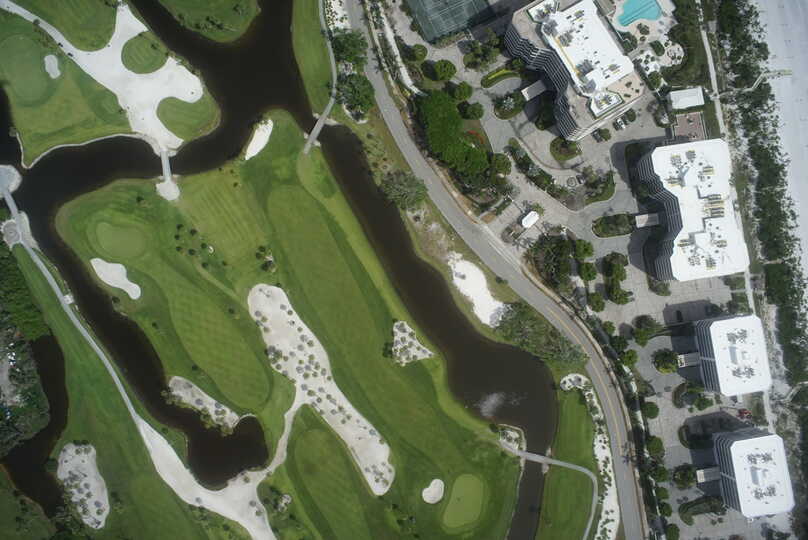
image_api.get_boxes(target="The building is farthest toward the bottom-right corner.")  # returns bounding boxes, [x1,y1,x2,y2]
[695,427,795,519]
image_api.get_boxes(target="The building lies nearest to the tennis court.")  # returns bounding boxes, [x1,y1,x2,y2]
[506,0,645,139]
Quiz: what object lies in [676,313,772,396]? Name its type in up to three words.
building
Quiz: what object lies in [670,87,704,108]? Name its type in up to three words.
building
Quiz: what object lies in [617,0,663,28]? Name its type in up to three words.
swimming pool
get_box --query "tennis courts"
[413,0,489,41]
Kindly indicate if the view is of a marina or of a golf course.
golf course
